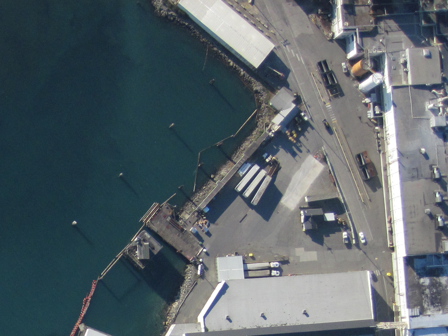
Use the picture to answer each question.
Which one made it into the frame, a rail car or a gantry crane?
rail car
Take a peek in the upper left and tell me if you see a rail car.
No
